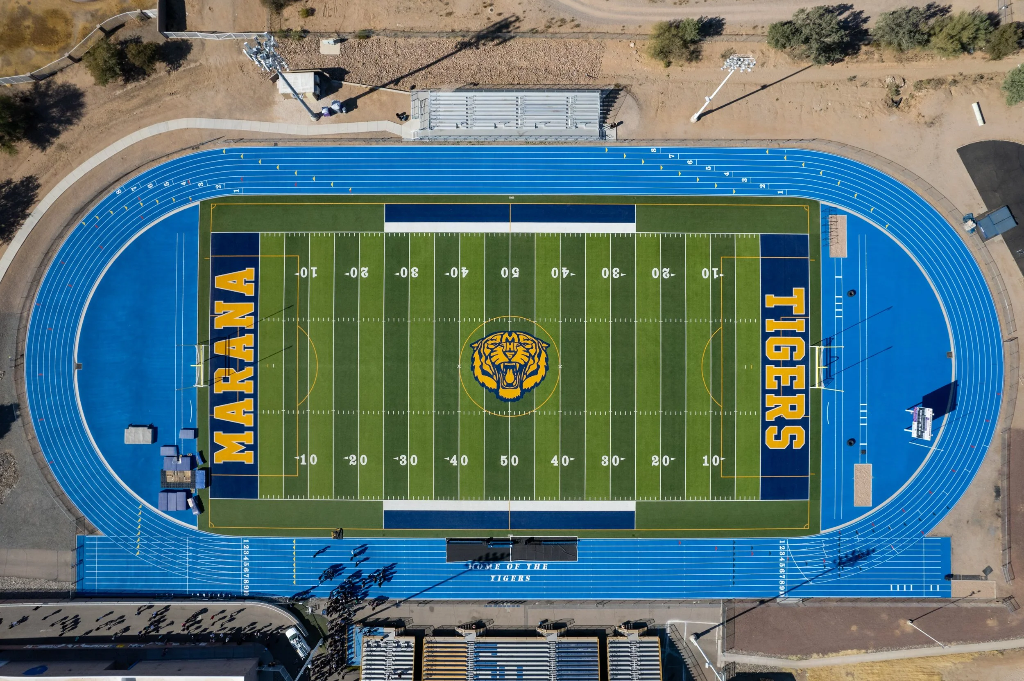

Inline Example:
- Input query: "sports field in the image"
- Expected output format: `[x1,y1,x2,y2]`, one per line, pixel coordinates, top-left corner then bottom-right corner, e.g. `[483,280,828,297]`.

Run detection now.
[199,195,821,539]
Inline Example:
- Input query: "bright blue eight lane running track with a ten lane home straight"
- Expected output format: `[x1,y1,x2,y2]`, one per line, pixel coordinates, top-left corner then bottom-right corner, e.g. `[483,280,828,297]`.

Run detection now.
[24,146,1005,601]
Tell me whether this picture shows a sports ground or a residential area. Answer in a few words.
sports ground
